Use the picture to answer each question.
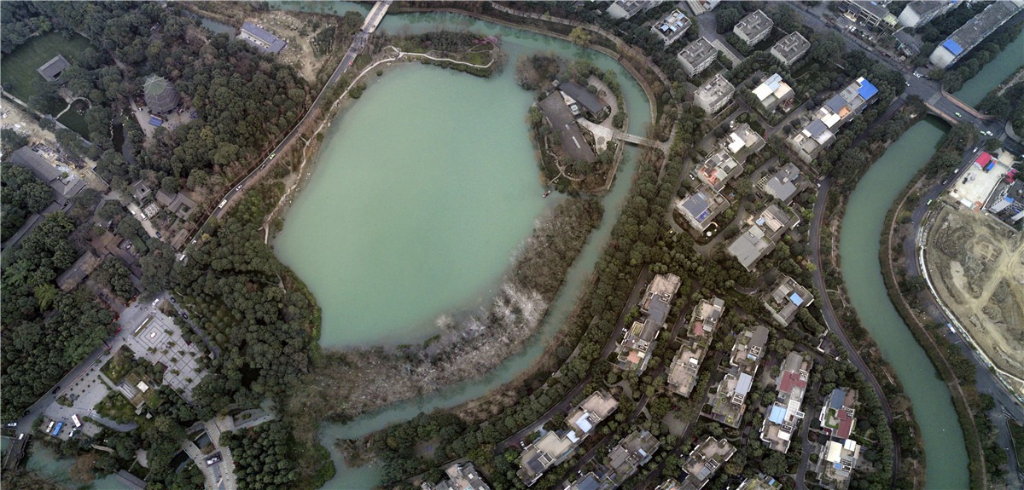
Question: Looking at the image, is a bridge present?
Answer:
Yes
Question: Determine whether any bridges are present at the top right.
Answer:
Yes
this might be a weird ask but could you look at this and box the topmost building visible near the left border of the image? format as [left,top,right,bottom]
[36,53,73,85]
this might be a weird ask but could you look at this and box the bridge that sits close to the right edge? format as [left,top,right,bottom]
[921,85,989,128]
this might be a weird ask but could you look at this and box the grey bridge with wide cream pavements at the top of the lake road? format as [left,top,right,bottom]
[354,0,394,38]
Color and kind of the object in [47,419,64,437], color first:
blue vehicle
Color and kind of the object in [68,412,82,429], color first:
white vehicle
